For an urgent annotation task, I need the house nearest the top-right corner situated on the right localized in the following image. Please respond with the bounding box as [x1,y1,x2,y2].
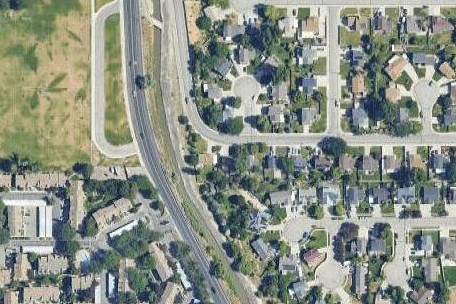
[432,16,453,33]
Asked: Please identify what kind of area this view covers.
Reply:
residential area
